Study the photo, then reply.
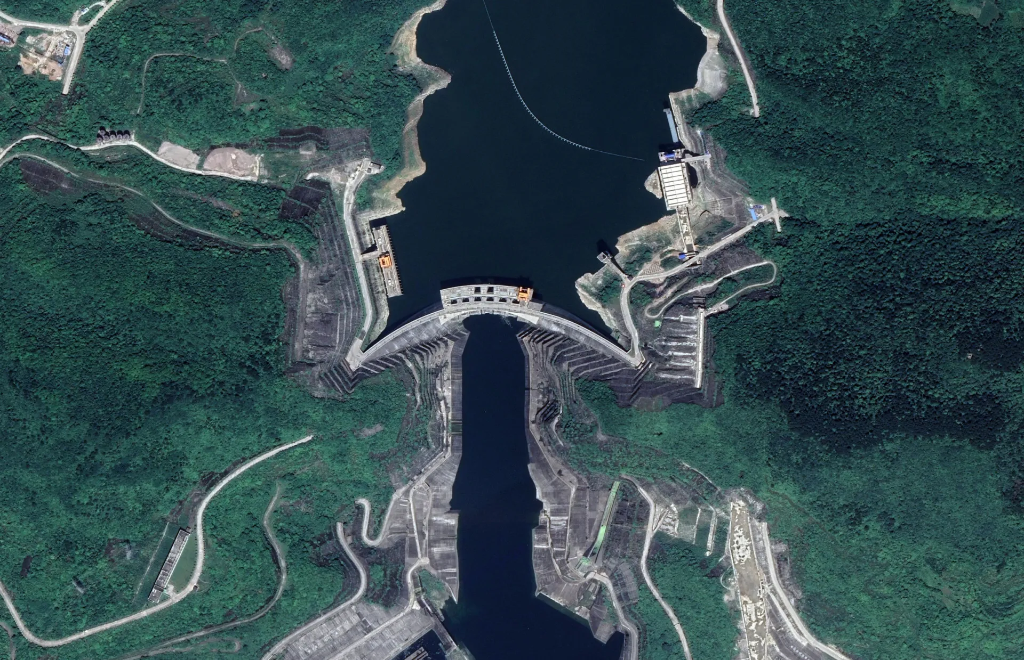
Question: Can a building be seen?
Yes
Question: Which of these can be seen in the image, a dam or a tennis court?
dam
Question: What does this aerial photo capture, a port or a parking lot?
port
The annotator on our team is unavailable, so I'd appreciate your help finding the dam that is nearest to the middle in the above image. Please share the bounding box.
[357,284,638,368]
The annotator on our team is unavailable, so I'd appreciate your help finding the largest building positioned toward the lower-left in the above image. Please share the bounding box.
[148,527,191,603]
